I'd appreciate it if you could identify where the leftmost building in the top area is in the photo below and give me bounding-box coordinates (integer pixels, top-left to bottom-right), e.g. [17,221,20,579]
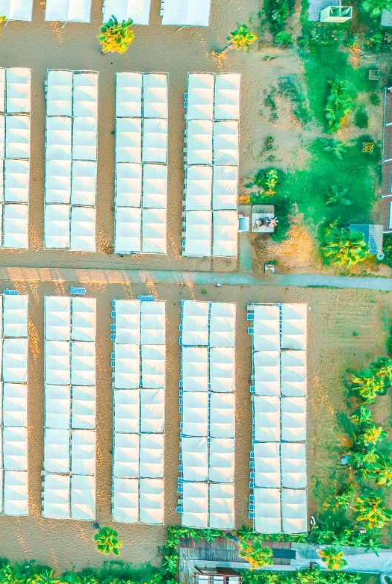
[318,6,351,23]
